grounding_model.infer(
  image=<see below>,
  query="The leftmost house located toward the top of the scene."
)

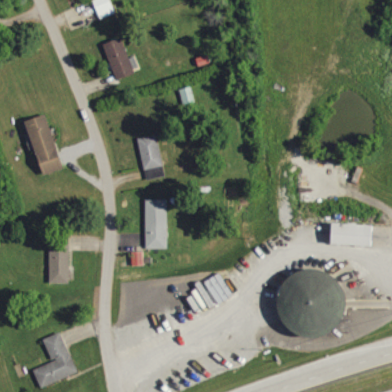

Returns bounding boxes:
[24,114,62,174]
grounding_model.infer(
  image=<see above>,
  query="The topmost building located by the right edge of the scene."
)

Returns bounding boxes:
[330,223,374,247]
